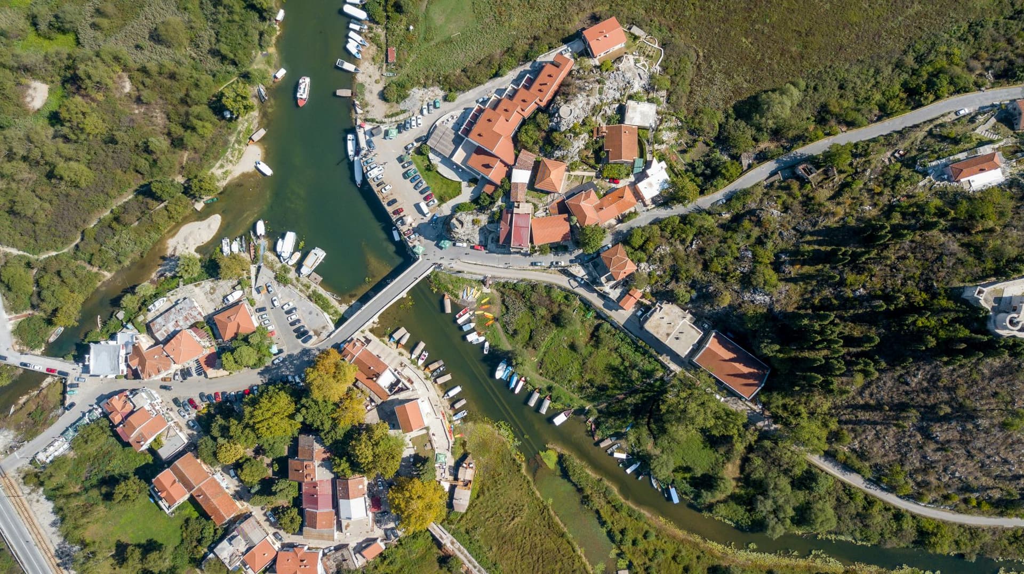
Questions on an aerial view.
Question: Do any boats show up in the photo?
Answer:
Yes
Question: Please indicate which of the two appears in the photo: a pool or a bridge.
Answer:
bridge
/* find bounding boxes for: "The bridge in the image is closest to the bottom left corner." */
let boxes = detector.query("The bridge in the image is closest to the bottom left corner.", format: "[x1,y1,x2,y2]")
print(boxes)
[17,351,85,385]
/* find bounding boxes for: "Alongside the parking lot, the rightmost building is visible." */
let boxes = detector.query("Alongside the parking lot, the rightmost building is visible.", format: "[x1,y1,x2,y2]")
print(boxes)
[346,339,405,400]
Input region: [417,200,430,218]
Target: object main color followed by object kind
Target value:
white vehicle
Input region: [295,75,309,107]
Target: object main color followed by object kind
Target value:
white boat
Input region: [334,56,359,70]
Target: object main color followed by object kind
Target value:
white boat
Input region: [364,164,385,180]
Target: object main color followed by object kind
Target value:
white camper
